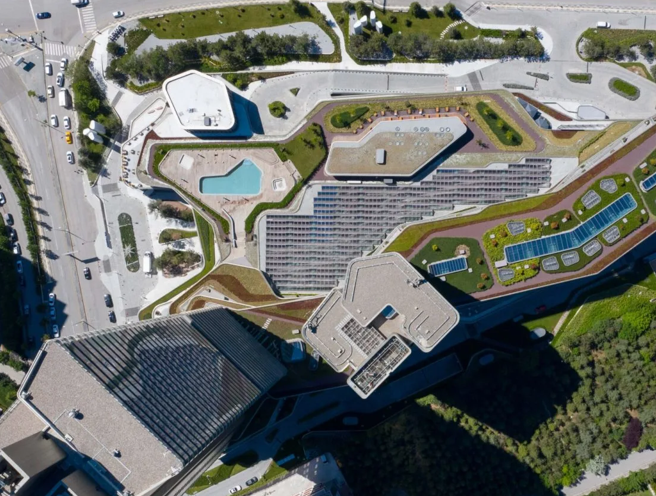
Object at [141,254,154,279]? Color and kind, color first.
white vehicle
